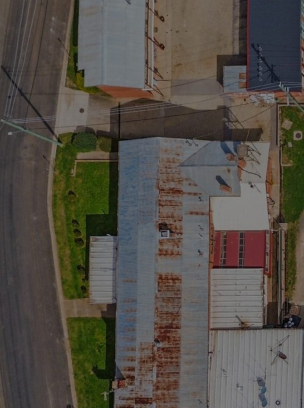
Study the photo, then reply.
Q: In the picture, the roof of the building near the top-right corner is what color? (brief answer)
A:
black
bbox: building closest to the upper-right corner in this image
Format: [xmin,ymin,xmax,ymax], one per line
[224,0,304,99]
